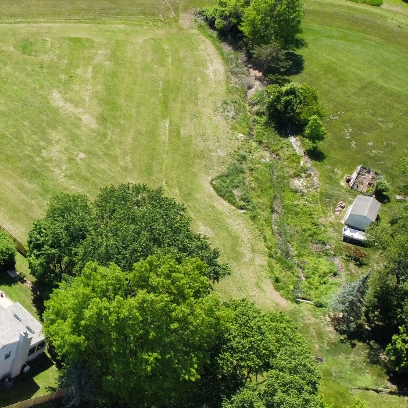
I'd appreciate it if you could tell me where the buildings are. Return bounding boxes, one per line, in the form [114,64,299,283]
[0,302,46,381]
[328,191,378,229]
